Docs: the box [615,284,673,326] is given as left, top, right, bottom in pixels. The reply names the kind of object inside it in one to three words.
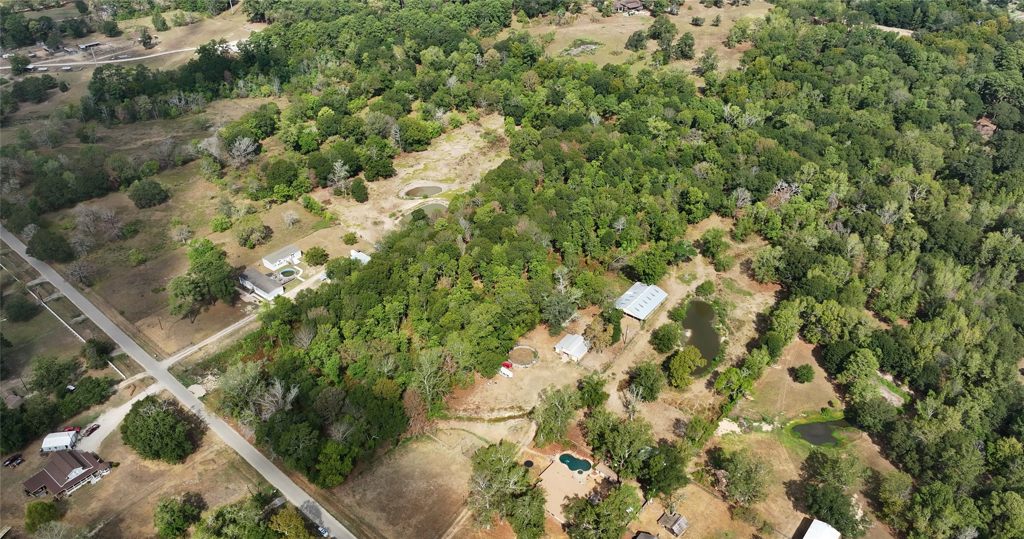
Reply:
barn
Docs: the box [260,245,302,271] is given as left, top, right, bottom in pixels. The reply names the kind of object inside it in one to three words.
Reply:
house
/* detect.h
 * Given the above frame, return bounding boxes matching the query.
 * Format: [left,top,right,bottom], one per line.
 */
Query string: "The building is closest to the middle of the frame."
[553,334,593,364]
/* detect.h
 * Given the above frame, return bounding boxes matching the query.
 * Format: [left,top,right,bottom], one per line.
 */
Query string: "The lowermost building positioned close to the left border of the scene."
[23,452,114,501]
